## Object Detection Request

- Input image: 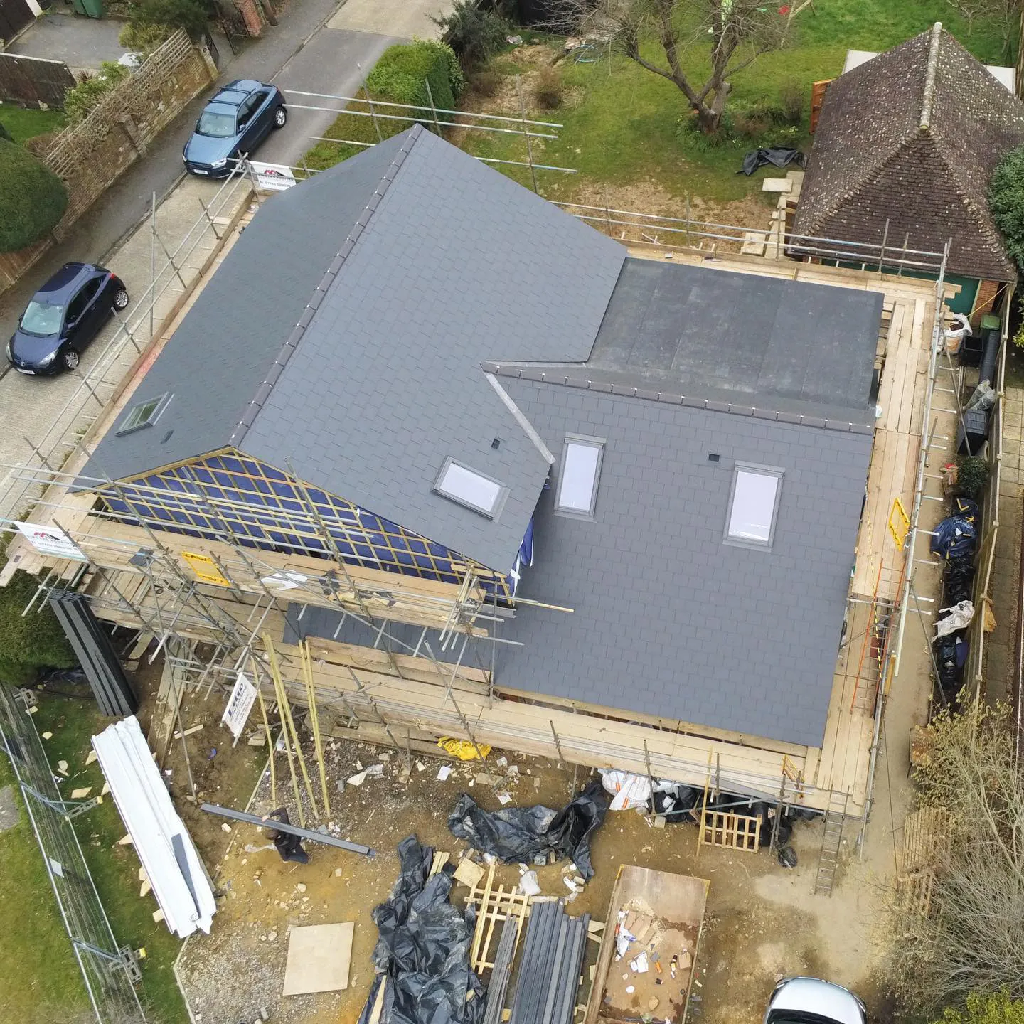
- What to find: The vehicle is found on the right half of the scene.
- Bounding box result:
[767,973,867,1024]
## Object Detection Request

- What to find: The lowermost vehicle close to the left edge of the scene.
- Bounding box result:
[0,261,124,380]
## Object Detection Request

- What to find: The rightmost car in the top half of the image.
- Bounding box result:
[169,77,286,181]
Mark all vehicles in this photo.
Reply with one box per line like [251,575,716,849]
[767,973,867,1024]
[169,77,286,181]
[0,261,124,380]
